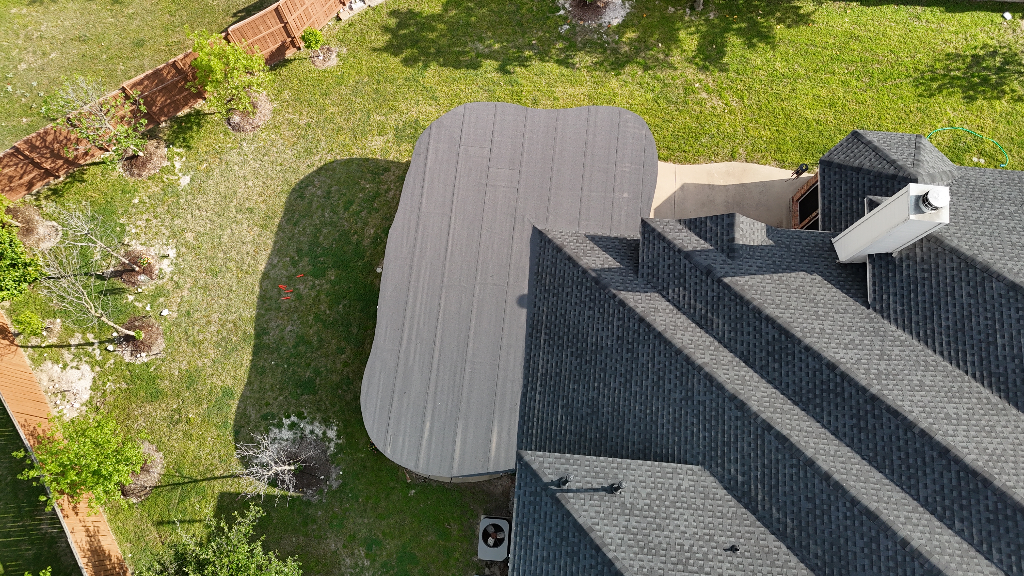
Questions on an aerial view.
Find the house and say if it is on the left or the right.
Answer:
right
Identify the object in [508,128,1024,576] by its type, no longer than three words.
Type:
house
